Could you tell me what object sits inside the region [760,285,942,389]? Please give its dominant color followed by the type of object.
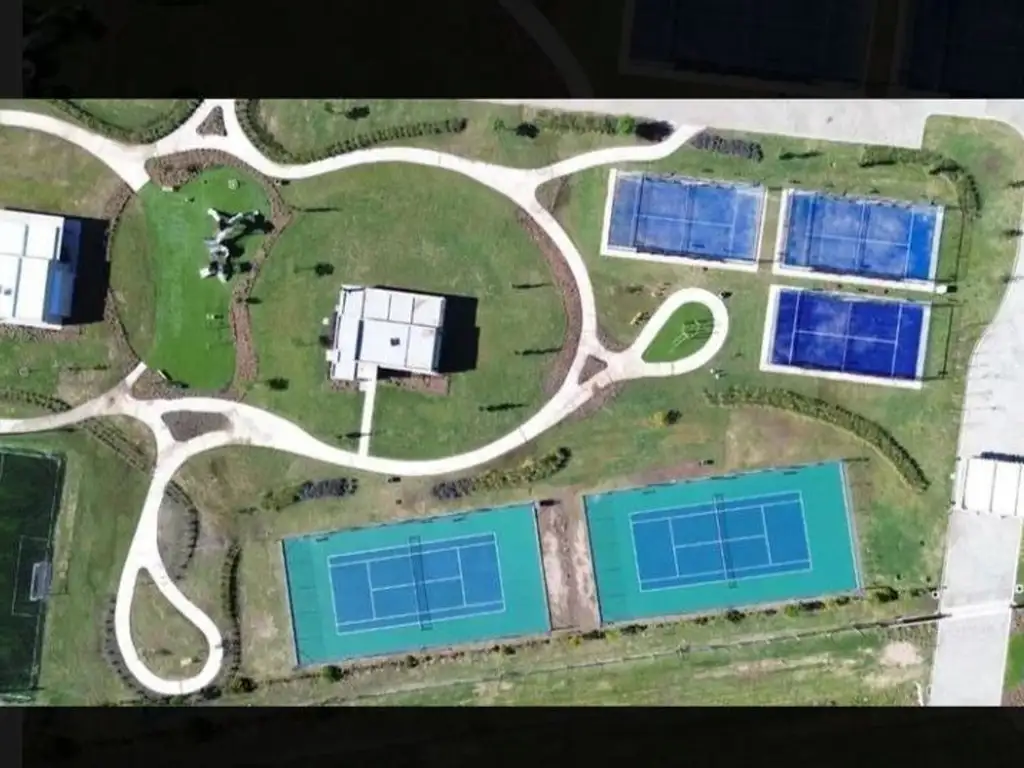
blue sports court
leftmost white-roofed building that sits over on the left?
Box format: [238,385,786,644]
[0,210,86,330]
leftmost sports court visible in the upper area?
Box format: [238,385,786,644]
[601,167,771,272]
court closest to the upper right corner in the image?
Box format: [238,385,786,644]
[773,185,956,291]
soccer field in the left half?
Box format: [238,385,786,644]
[0,446,63,692]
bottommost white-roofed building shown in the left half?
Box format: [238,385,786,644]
[324,285,446,380]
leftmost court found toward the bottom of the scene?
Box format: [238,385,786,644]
[280,500,555,669]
